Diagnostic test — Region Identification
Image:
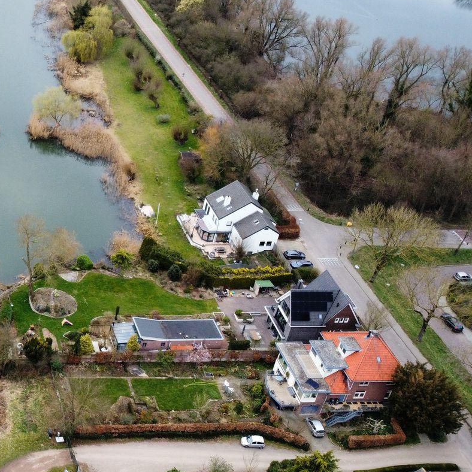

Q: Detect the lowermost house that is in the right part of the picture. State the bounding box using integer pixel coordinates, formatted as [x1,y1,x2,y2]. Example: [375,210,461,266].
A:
[264,329,420,422]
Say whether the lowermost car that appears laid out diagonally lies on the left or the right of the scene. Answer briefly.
right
